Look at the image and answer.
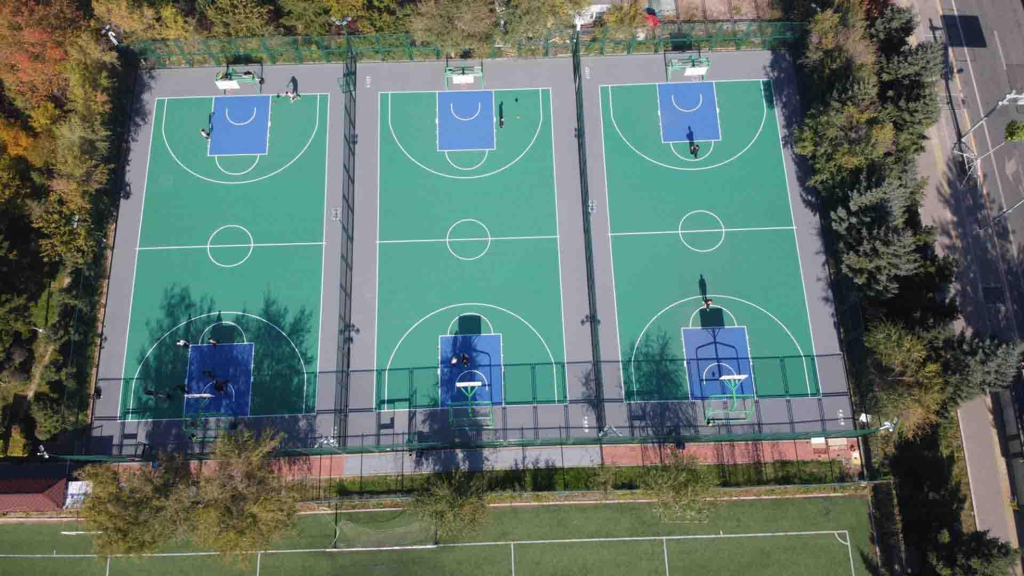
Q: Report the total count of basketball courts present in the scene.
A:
3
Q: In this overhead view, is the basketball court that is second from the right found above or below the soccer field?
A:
above it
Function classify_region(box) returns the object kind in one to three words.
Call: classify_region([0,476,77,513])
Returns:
building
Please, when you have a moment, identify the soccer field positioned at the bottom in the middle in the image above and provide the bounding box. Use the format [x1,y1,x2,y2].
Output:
[0,494,884,576]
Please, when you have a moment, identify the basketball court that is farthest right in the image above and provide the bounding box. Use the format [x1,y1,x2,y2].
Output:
[599,81,820,403]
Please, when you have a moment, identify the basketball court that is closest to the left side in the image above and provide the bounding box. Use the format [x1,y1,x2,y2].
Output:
[117,93,329,421]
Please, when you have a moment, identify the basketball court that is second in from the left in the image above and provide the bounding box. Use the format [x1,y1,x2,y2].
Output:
[373,87,570,412]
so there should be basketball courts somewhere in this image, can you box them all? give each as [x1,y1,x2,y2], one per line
[599,81,820,403]
[117,93,329,421]
[373,87,570,412]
